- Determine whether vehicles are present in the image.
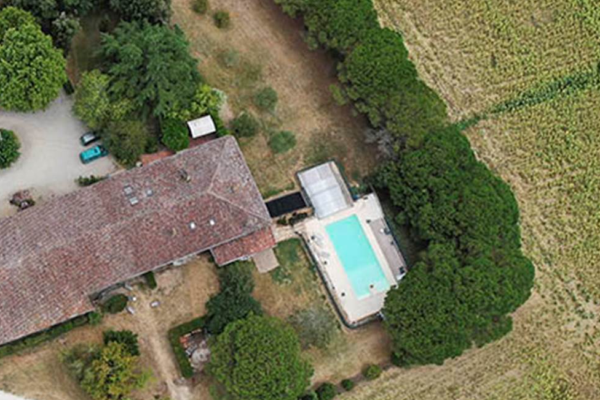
Yes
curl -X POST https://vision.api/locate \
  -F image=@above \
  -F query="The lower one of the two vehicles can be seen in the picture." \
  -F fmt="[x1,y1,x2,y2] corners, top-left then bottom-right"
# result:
[80,145,109,163]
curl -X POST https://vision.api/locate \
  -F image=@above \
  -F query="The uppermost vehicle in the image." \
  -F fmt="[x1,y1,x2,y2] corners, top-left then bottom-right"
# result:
[80,129,107,146]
